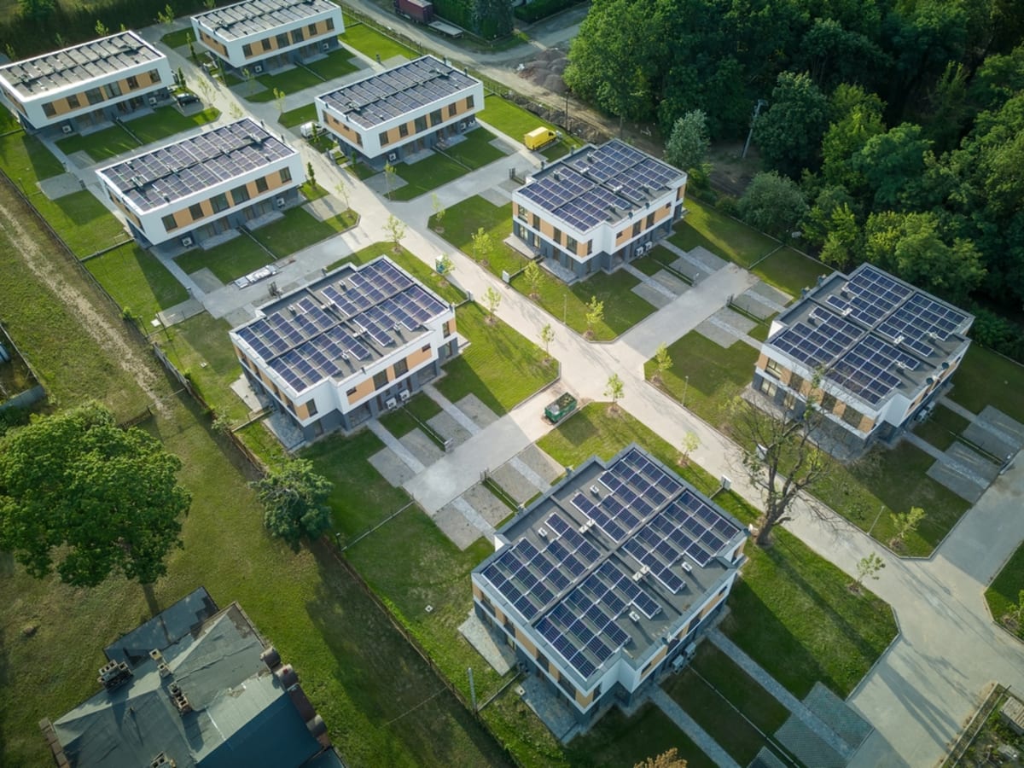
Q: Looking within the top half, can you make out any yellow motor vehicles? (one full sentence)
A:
Yes, a yellow motor vehicle can be seen within the top half.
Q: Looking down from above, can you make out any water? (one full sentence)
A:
No, there's no water in this view.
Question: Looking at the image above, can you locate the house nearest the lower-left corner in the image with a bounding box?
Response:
[31,593,341,768]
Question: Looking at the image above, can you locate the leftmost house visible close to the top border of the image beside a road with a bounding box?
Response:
[0,31,177,143]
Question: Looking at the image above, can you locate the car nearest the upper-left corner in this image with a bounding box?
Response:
[173,93,201,107]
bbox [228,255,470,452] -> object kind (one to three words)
house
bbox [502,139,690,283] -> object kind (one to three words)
house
